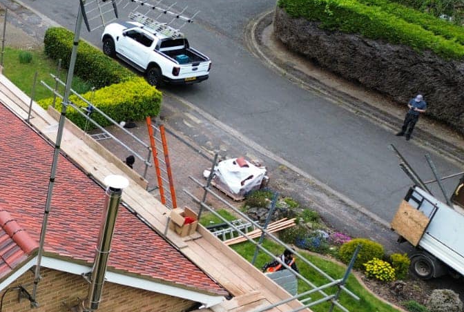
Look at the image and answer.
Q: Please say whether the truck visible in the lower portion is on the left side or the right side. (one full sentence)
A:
The truck visible in the lower portion appears in the right half of the scene.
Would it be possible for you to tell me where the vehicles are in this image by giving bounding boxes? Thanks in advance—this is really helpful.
[387,177,464,274]
[100,19,210,85]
